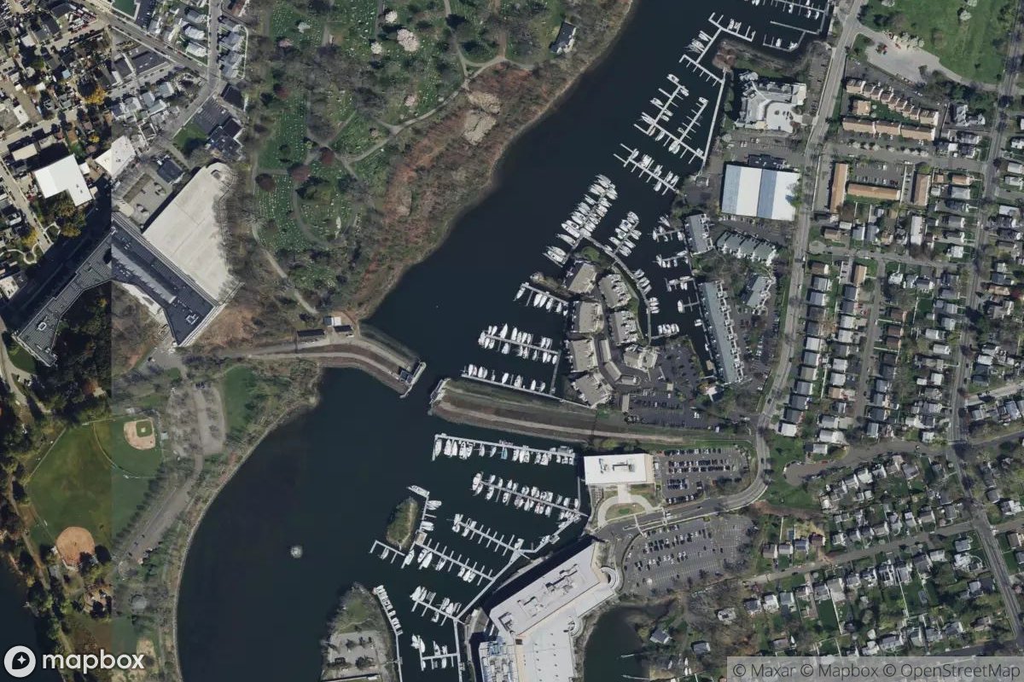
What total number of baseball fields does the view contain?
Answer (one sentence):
My tally gives 2 baseball fields in this view.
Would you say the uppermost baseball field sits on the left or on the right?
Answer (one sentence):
The uppermost baseball field is on the left side of the image.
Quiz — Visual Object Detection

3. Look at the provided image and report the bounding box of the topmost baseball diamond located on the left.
[81,415,163,478]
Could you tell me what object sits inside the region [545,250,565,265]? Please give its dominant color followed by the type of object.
white boat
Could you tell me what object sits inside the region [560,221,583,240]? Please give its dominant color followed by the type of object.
white boat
